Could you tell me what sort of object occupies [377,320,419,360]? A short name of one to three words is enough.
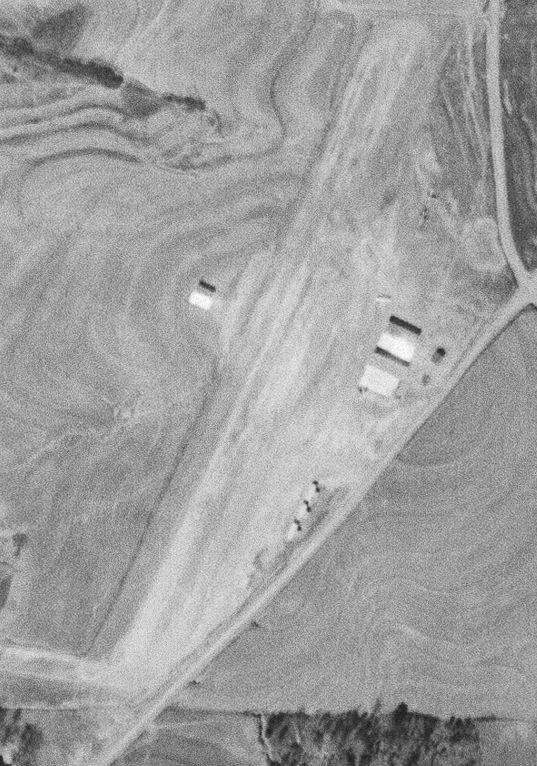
hangar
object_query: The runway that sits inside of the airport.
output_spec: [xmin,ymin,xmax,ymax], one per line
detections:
[108,24,444,672]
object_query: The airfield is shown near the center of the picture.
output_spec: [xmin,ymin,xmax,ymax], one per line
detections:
[108,24,470,672]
